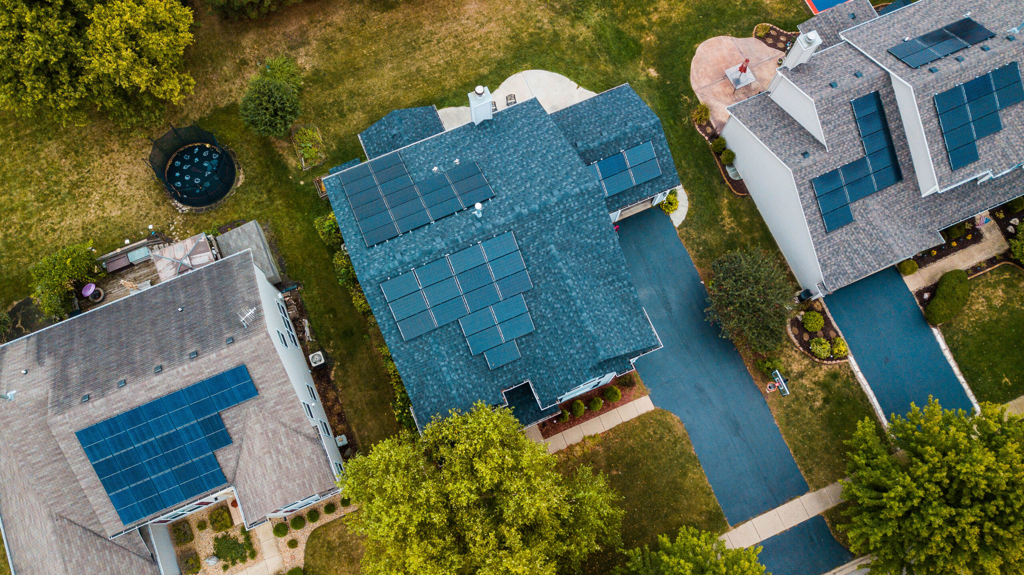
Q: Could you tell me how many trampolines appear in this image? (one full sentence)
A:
I count just 1 trampoline.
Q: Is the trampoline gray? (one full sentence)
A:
No, the trampoline is black.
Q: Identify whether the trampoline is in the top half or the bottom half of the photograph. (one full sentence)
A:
You can find the trampoline in the top half.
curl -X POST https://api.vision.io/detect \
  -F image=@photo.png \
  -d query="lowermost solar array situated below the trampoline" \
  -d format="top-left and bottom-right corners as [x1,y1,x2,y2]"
[76,366,259,525]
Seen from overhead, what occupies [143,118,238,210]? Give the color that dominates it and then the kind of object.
black trampoline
